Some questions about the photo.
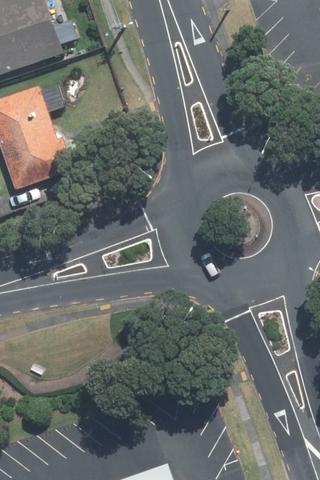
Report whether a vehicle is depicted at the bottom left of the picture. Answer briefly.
No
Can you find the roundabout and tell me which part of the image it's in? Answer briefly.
right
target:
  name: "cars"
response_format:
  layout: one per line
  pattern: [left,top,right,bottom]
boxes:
[202,252,220,278]
[8,186,41,206]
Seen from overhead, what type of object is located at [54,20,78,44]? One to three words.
shed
